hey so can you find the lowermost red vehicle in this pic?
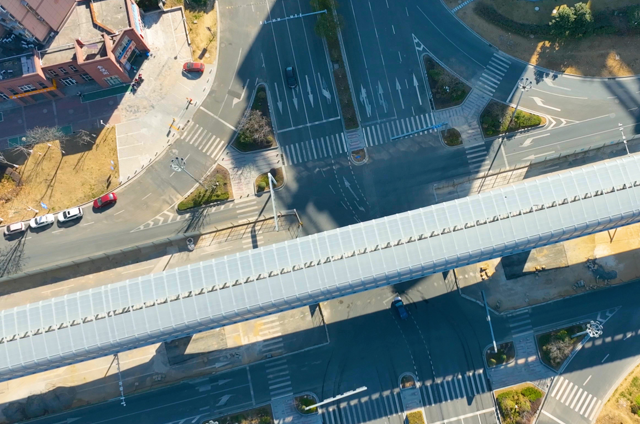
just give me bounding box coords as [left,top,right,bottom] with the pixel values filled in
[93,193,118,209]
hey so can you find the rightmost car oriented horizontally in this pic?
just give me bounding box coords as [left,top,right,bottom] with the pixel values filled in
[183,61,205,73]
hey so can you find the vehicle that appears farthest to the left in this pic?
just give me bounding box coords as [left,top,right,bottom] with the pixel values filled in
[4,222,27,236]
